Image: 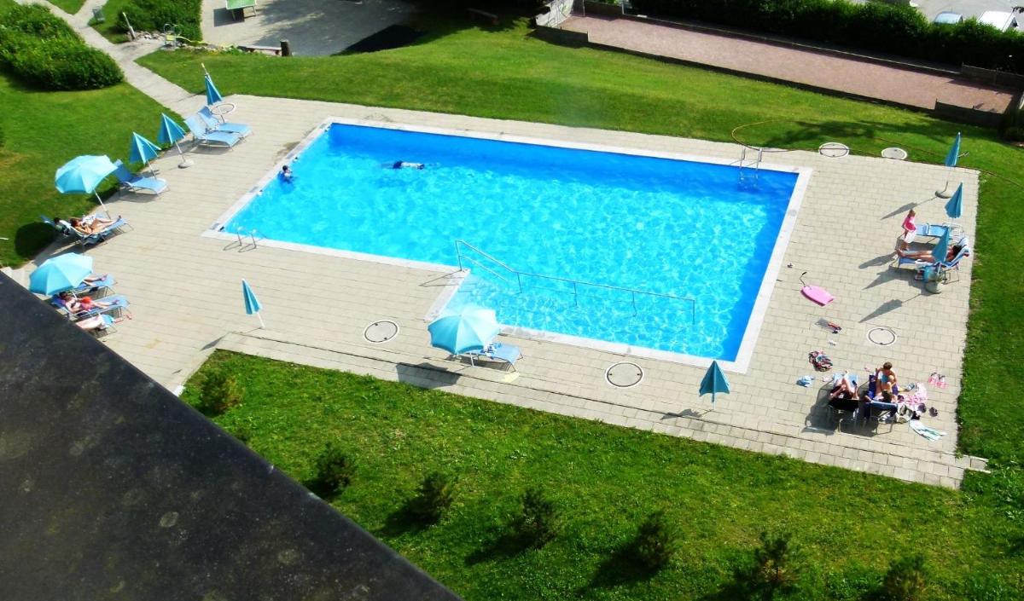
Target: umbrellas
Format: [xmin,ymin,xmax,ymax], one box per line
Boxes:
[59,152,123,216]
[161,113,193,168]
[243,279,264,327]
[22,250,102,295]
[202,64,223,106]
[427,304,505,365]
[925,225,950,292]
[133,132,161,178]
[698,360,732,408]
[935,132,959,198]
[946,183,965,240]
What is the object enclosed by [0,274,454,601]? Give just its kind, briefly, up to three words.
building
